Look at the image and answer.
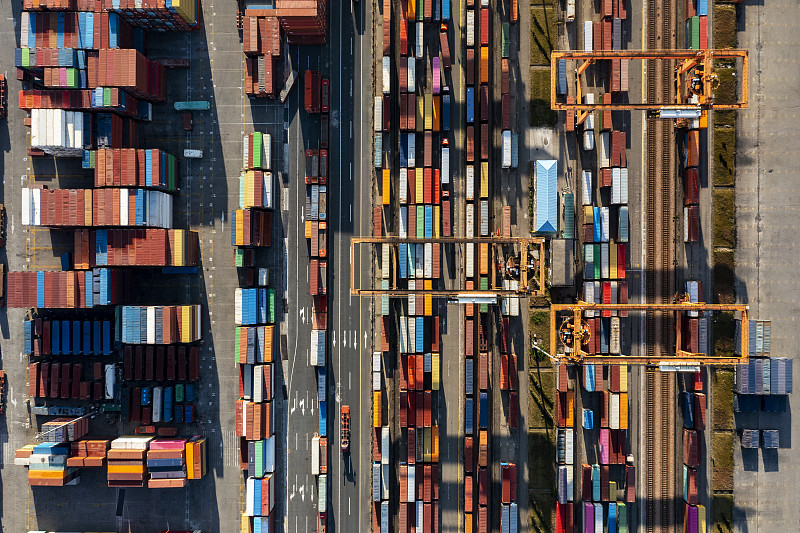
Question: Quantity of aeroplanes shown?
0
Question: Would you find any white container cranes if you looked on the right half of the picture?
No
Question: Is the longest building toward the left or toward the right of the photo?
right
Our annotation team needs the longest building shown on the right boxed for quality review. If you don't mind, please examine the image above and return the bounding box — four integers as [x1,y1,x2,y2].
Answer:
[534,159,558,232]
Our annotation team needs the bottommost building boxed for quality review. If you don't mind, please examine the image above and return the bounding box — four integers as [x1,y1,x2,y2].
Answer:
[548,238,574,286]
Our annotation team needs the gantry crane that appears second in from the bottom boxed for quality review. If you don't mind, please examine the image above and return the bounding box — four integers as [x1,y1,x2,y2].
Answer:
[349,234,547,309]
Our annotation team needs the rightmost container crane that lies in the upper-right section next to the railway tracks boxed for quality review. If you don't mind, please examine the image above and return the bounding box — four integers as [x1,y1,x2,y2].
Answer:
[549,48,752,132]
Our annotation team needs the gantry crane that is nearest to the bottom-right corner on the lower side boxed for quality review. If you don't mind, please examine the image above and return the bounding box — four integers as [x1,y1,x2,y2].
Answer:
[548,295,751,375]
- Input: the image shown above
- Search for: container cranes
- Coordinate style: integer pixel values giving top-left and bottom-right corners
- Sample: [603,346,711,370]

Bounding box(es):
[549,48,752,132]
[548,295,751,375]
[349,234,547,309]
